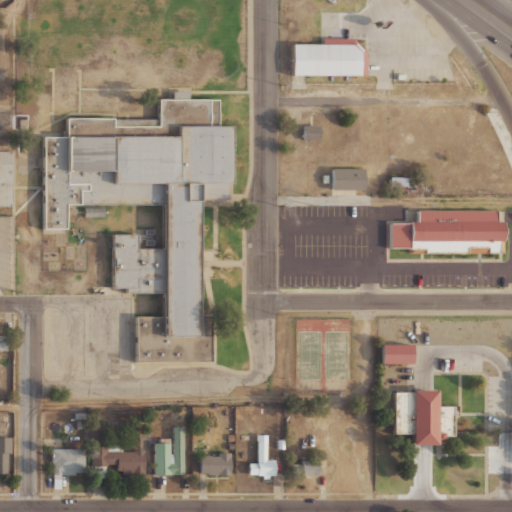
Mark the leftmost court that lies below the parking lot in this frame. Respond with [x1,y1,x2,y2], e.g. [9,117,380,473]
[297,319,324,390]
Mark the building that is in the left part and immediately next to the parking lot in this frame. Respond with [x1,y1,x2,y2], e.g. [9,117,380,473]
[42,91,236,362]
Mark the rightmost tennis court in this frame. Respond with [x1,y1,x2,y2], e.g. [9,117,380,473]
[324,319,350,390]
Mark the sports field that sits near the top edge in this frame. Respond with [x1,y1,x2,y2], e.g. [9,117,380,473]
[31,0,243,88]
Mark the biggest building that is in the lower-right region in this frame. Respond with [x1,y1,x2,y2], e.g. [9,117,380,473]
[394,392,458,446]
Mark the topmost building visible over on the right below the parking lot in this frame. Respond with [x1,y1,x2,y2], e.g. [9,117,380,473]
[384,344,418,365]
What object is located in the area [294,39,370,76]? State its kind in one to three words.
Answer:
building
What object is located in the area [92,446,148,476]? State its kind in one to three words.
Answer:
house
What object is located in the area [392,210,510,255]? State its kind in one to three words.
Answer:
building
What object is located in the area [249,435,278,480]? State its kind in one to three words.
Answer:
house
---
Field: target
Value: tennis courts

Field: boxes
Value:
[324,319,350,390]
[297,319,324,390]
